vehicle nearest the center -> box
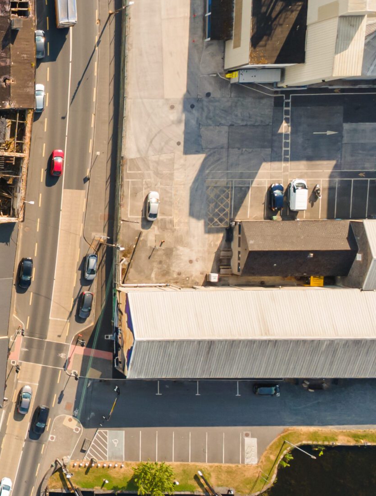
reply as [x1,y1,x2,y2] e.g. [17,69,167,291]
[144,191,159,221]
